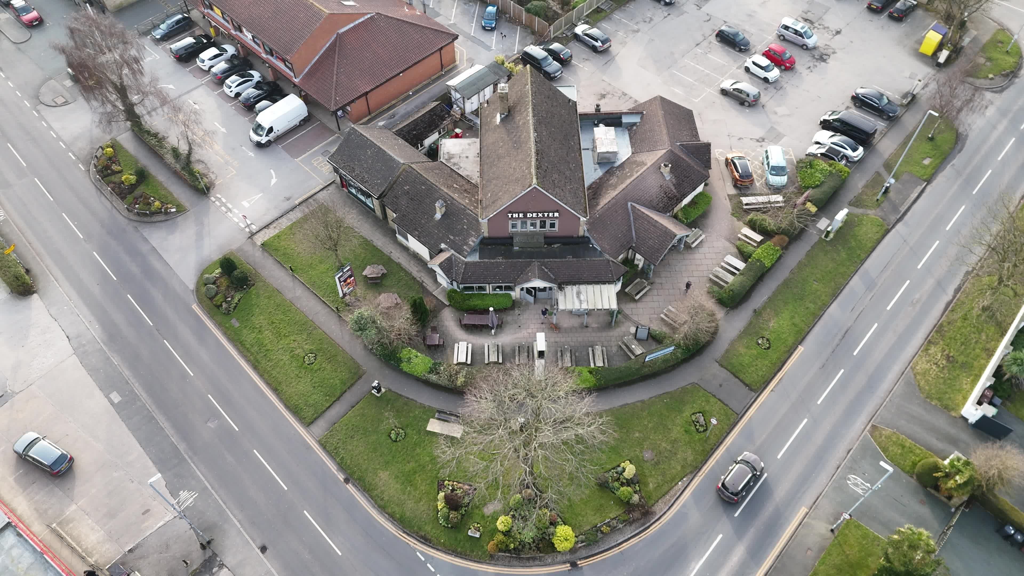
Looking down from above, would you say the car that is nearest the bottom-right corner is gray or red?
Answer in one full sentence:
The car that is nearest the bottom-right corner is gray.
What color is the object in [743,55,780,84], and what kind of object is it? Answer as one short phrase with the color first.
white car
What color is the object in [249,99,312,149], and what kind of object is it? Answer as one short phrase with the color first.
white van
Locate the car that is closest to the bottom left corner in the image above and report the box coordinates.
[8,433,75,481]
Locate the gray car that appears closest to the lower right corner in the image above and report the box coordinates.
[718,451,768,507]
